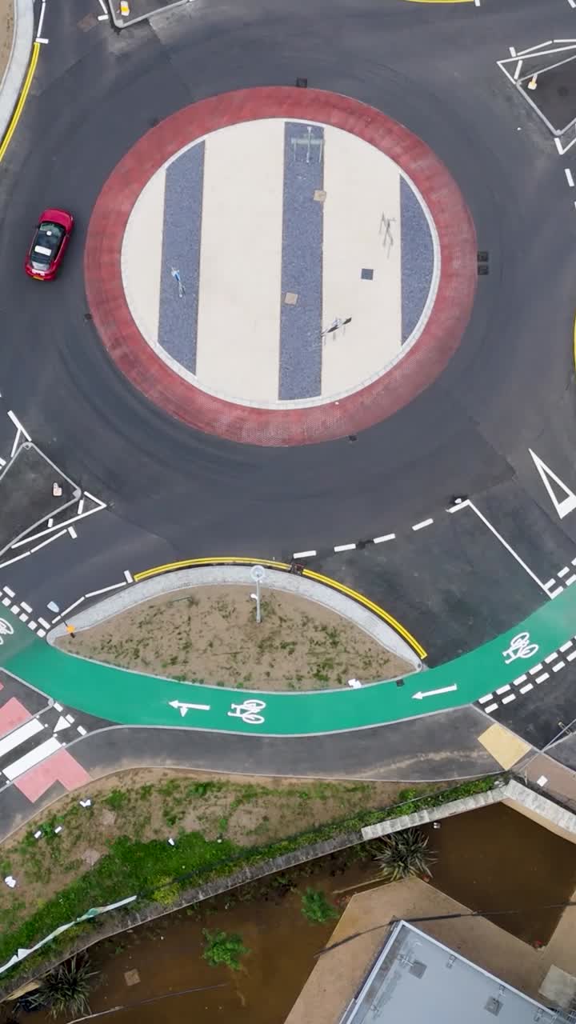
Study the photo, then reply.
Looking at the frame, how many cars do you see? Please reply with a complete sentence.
I count just 1 car.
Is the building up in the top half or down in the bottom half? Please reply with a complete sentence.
You can find the building in the bottom half.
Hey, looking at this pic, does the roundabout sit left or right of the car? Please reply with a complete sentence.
It is on the right side of the car that the roundabout is positioned.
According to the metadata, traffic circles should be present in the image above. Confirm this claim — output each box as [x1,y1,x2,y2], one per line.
[83,87,478,446]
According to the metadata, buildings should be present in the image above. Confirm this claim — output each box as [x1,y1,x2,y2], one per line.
[331,922,562,1024]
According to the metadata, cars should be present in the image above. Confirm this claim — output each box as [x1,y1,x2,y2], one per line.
[25,211,74,283]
